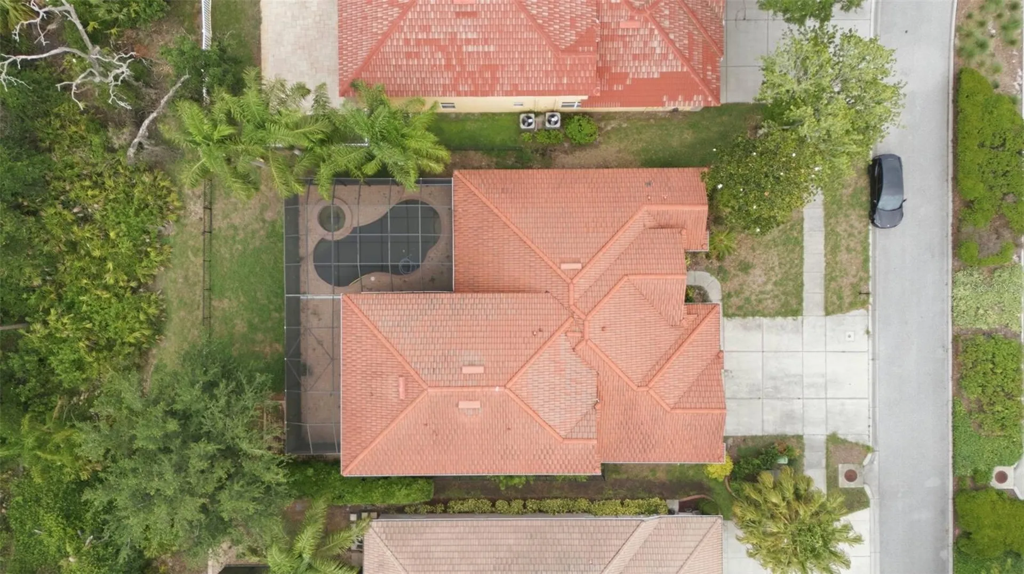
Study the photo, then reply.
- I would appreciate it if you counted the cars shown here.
one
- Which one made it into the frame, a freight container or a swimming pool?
swimming pool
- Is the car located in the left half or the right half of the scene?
right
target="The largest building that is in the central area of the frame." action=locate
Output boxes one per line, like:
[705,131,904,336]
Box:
[339,167,728,478]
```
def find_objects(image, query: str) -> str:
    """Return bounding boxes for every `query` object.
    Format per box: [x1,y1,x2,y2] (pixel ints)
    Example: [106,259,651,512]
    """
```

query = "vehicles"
[868,154,907,227]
